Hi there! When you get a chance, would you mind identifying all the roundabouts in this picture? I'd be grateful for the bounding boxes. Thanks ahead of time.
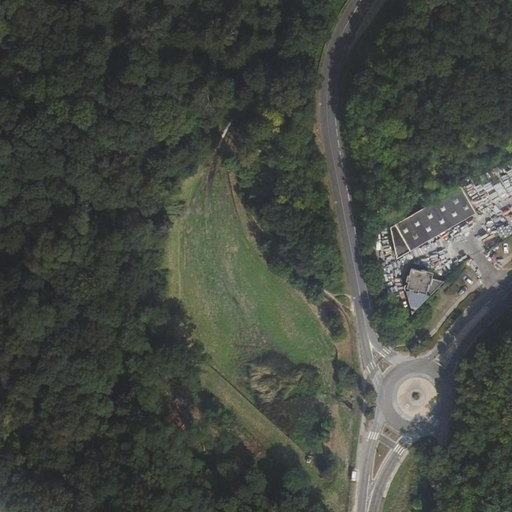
[378,358,454,434]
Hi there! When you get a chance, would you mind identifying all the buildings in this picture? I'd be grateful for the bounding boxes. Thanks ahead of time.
[390,186,476,258]
[406,269,444,314]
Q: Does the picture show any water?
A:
No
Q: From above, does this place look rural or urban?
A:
rural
